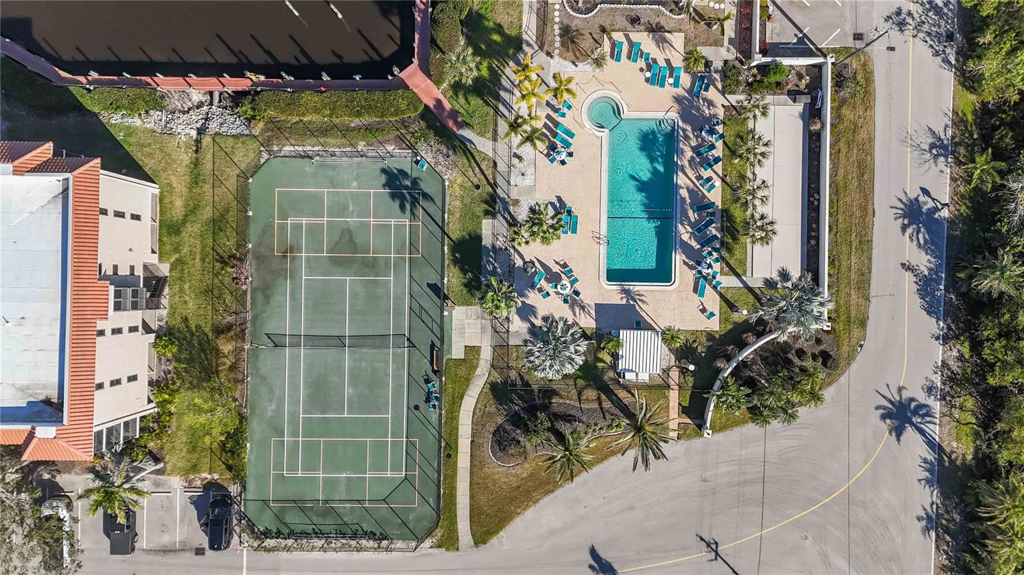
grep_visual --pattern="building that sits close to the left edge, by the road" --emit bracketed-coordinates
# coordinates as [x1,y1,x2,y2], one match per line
[0,140,176,463]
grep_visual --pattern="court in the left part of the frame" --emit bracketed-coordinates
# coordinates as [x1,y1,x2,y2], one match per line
[244,157,445,541]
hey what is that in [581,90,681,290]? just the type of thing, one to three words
swimming pool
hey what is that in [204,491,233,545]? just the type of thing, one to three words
car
